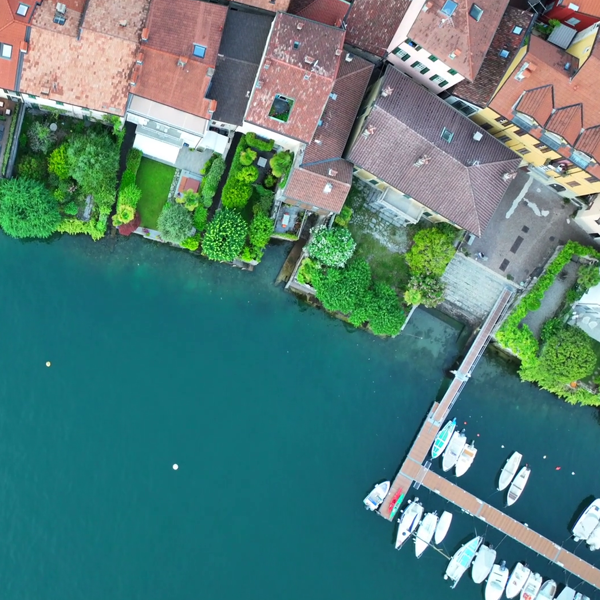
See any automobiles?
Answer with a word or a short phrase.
No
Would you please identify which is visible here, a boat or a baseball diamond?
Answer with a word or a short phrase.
boat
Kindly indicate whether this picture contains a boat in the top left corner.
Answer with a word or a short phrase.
No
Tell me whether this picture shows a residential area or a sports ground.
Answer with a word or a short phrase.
residential area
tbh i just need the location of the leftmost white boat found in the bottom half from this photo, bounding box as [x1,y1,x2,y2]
[364,480,391,509]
